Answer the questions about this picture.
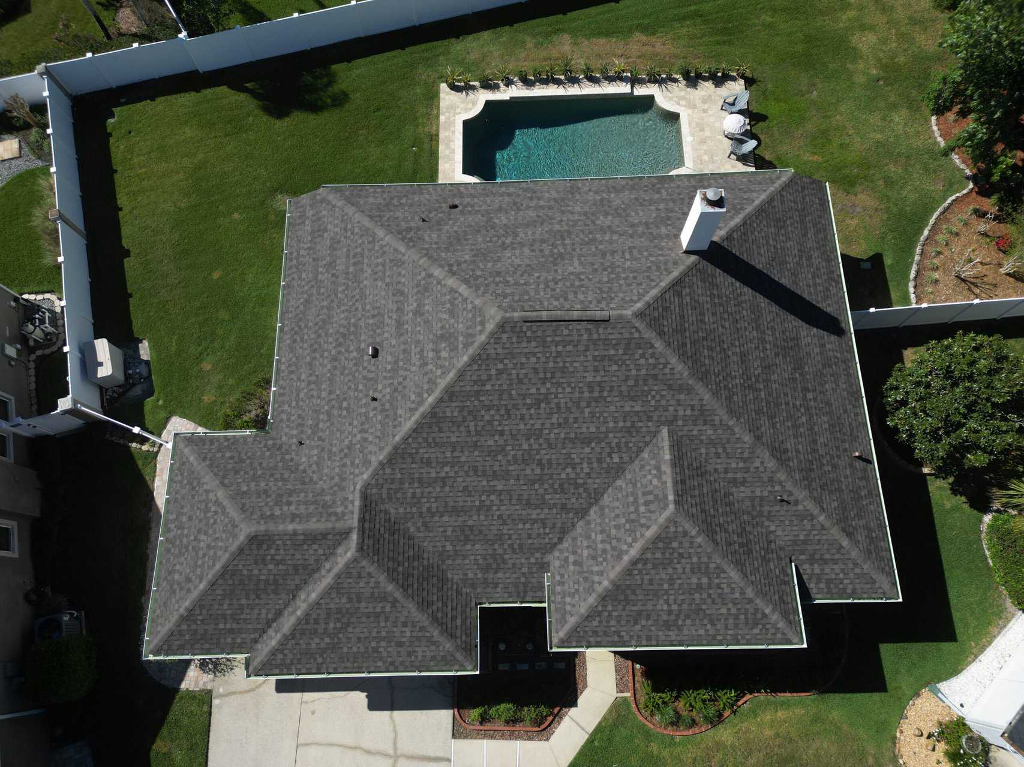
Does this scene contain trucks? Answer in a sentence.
No, there's no truck here.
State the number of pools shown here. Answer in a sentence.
I count 1 pool.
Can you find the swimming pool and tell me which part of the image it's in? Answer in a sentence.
The swimming pool is in the top part of the image.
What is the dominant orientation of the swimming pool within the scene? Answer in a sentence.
The swimming pool has been laid out horizontally relative to the frame.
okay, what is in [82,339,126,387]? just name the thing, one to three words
shed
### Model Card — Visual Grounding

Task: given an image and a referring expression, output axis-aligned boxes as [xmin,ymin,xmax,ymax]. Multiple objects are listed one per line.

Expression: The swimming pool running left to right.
[455,87,693,182]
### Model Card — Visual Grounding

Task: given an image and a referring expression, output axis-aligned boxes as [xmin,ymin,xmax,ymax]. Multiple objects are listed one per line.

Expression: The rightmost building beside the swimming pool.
[144,171,901,679]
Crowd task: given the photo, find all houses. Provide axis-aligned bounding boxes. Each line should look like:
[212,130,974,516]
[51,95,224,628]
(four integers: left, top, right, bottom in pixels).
[144,171,901,679]
[0,284,44,767]
[966,644,1024,767]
